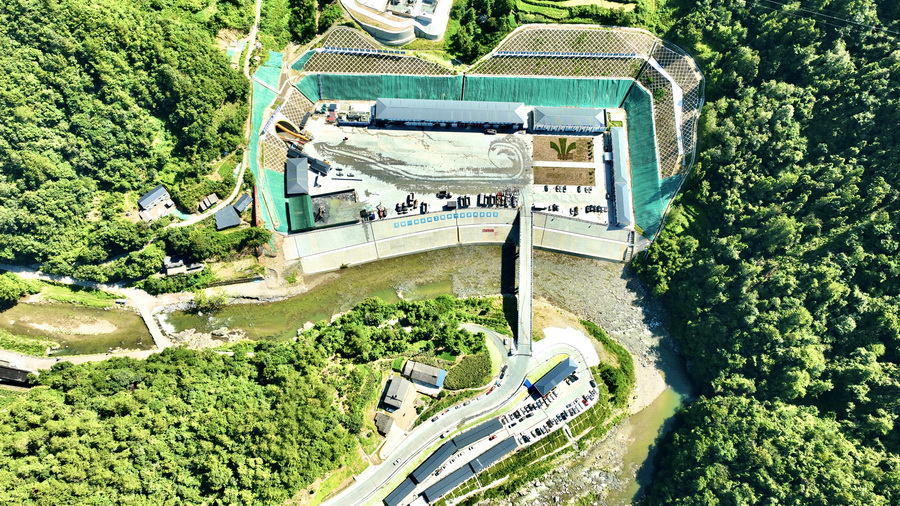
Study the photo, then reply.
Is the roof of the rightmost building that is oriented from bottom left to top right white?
No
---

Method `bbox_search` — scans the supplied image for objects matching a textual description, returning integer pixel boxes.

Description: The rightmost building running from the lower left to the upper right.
[534,357,577,395]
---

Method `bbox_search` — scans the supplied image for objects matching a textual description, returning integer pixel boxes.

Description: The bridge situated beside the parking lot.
[518,205,534,351]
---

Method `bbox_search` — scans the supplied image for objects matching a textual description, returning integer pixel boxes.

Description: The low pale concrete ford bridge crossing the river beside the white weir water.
[134,297,171,351]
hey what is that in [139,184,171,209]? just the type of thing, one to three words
house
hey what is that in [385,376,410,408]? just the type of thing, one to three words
house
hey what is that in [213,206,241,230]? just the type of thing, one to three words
barn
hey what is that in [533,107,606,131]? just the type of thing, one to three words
building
